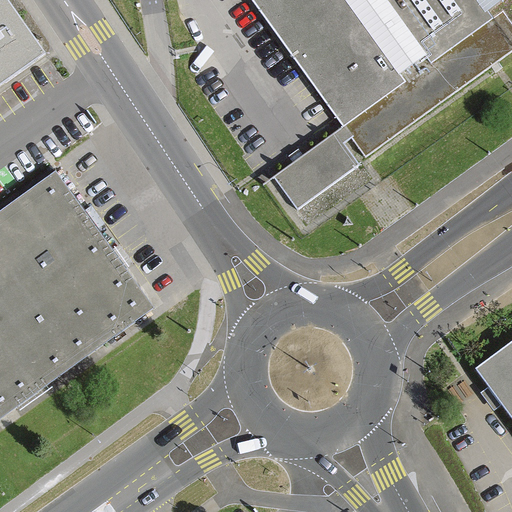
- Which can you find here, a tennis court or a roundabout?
roundabout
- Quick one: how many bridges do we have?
0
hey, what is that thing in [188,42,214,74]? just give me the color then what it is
white vehicle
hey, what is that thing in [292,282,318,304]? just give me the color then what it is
white vehicle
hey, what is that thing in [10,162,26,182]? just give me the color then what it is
white car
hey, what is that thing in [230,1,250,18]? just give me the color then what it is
red car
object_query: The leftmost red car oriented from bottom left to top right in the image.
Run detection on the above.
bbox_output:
[154,274,174,292]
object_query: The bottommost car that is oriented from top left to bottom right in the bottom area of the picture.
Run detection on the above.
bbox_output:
[316,455,338,474]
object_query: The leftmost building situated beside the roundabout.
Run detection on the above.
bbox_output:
[0,170,154,419]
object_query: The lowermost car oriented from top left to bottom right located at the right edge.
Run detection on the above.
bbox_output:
[486,414,506,436]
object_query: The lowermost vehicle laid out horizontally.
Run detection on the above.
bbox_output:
[238,438,270,452]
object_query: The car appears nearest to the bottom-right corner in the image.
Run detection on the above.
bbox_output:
[482,483,504,502]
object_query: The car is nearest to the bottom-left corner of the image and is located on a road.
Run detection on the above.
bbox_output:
[140,488,162,505]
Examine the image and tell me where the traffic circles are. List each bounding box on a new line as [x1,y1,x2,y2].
[210,276,408,483]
